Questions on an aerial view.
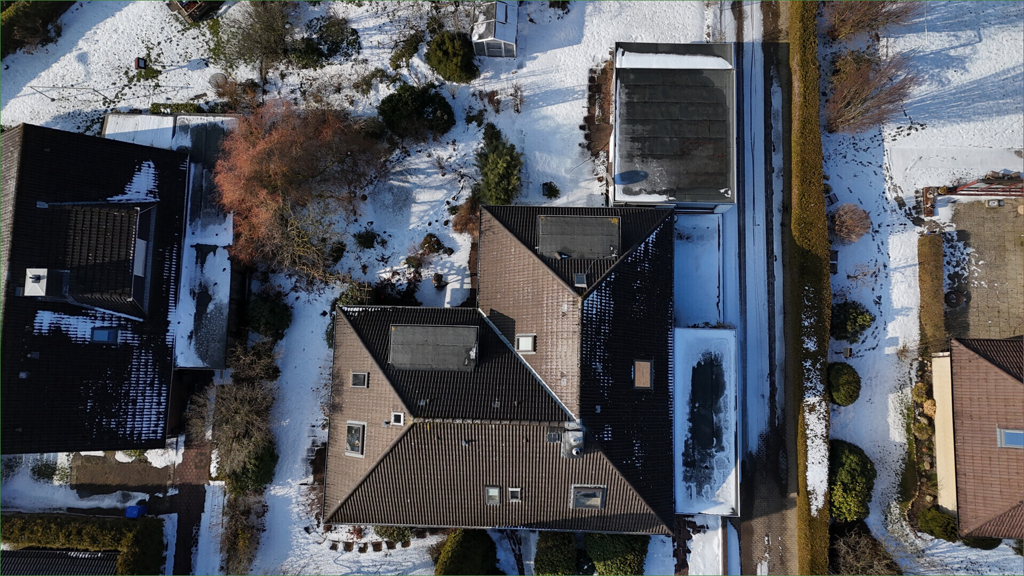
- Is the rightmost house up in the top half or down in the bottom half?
bottom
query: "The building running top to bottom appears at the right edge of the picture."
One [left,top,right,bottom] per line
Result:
[932,337,1024,539]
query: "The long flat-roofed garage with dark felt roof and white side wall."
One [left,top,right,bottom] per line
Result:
[609,41,738,212]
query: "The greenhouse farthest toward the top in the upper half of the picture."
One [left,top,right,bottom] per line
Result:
[473,0,519,57]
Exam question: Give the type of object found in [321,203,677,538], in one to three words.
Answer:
house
